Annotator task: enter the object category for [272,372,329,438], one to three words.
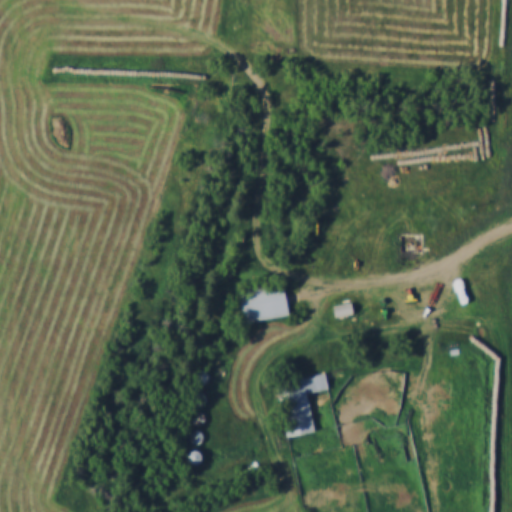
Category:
house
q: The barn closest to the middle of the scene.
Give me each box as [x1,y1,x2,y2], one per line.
[244,292,290,322]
